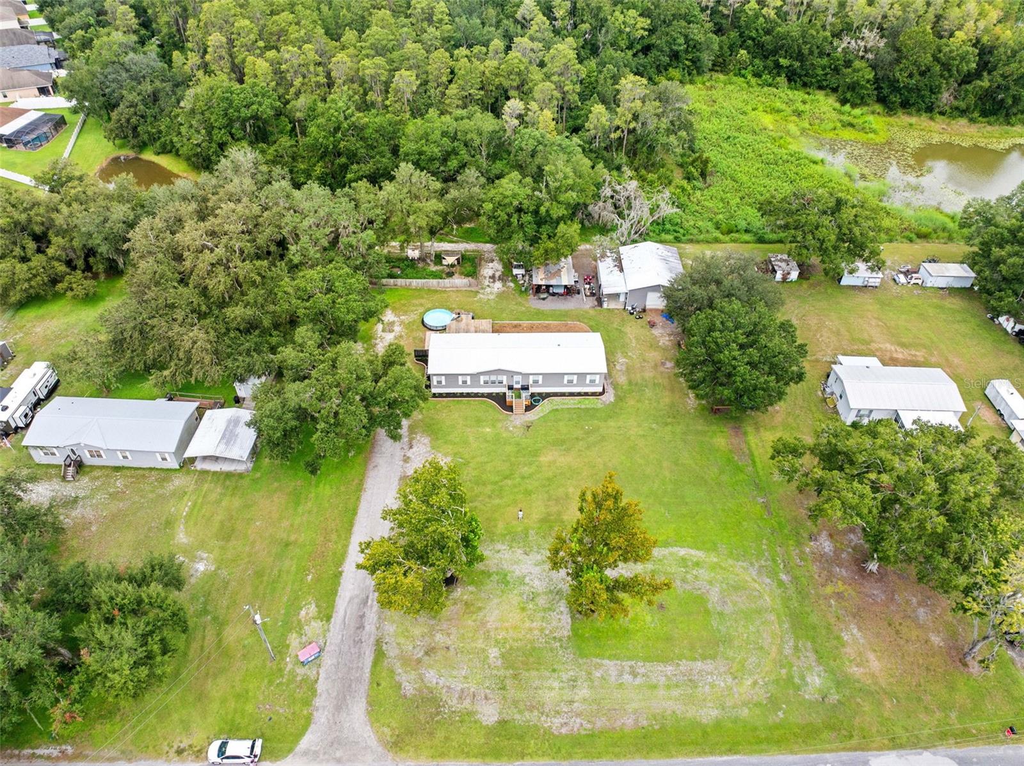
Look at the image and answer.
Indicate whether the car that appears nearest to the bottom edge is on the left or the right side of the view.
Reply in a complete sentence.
It is on the left.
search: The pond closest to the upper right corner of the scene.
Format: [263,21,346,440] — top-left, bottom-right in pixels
[806,132,1024,212]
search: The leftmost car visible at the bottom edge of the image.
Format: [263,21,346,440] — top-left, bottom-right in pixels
[206,736,266,766]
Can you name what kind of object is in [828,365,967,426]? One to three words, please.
house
